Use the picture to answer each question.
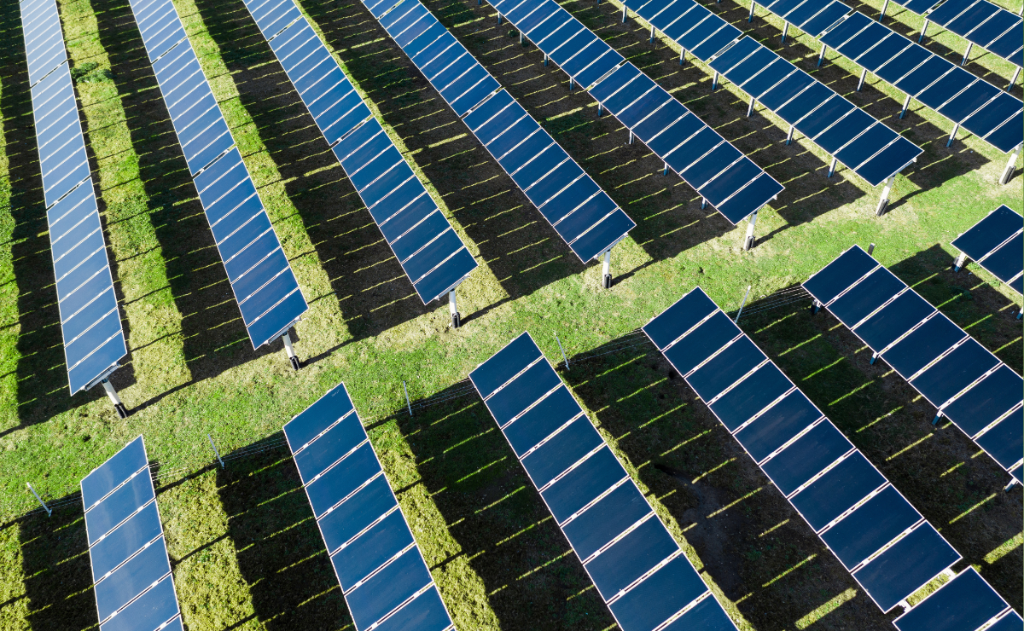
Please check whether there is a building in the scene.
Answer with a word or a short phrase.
No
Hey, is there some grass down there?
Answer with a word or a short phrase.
Yes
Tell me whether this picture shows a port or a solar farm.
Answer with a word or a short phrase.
solar farm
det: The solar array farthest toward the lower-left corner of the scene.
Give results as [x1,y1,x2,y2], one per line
[81,435,183,631]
